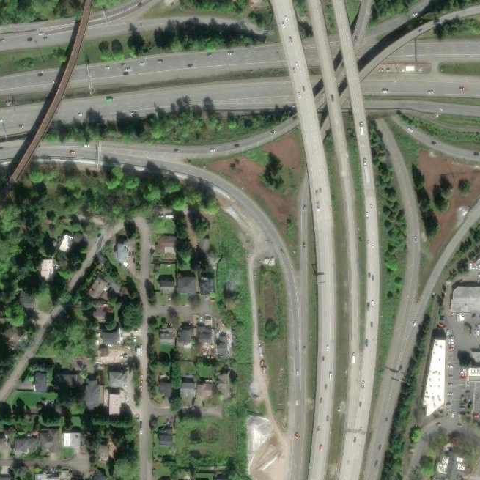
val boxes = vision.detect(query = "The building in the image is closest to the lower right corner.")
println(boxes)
[435,455,466,479]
